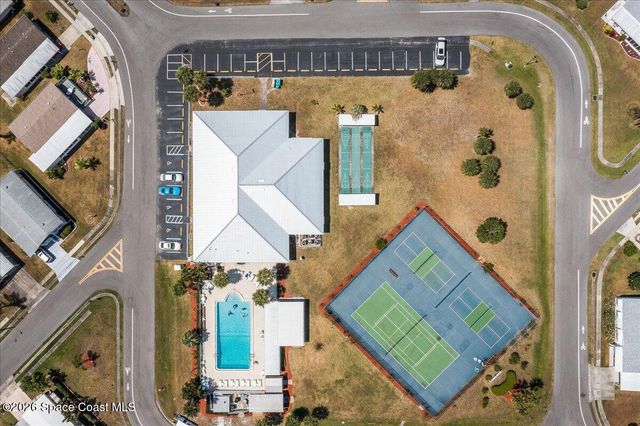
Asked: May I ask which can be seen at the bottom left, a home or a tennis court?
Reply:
home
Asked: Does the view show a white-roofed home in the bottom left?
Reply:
Yes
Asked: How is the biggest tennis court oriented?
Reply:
diagonally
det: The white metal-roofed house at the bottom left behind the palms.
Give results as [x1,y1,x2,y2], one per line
[14,391,87,426]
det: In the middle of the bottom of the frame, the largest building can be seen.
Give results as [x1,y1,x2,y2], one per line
[264,299,305,375]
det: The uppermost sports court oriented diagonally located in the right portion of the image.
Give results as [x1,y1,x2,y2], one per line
[394,232,455,294]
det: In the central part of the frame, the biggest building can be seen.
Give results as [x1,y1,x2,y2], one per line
[192,111,324,262]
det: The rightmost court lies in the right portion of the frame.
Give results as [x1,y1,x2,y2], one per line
[449,287,511,348]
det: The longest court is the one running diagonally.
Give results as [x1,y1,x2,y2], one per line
[351,281,460,389]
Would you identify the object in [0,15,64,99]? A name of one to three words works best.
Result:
house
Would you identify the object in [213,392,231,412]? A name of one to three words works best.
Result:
building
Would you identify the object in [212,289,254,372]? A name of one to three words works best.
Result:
swimming pool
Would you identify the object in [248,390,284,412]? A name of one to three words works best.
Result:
shed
